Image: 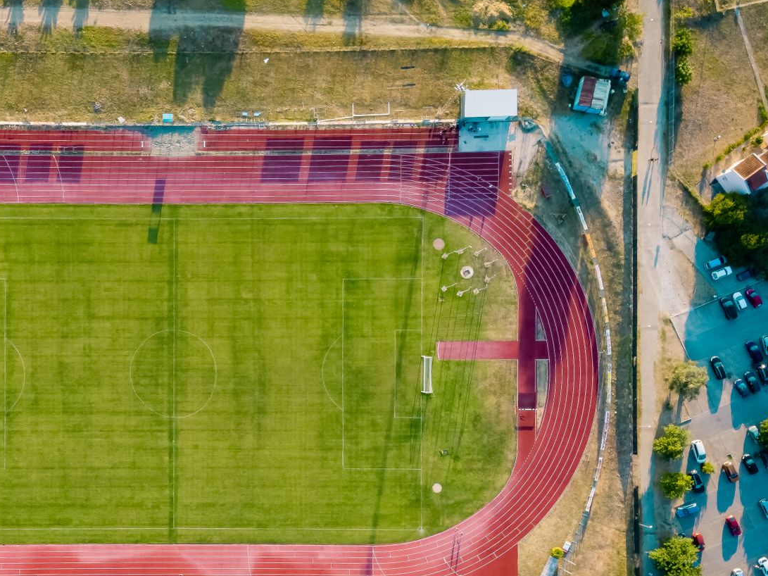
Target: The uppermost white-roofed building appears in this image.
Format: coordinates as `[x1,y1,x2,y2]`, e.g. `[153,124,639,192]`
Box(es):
[458,91,518,122]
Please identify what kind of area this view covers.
sports ground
